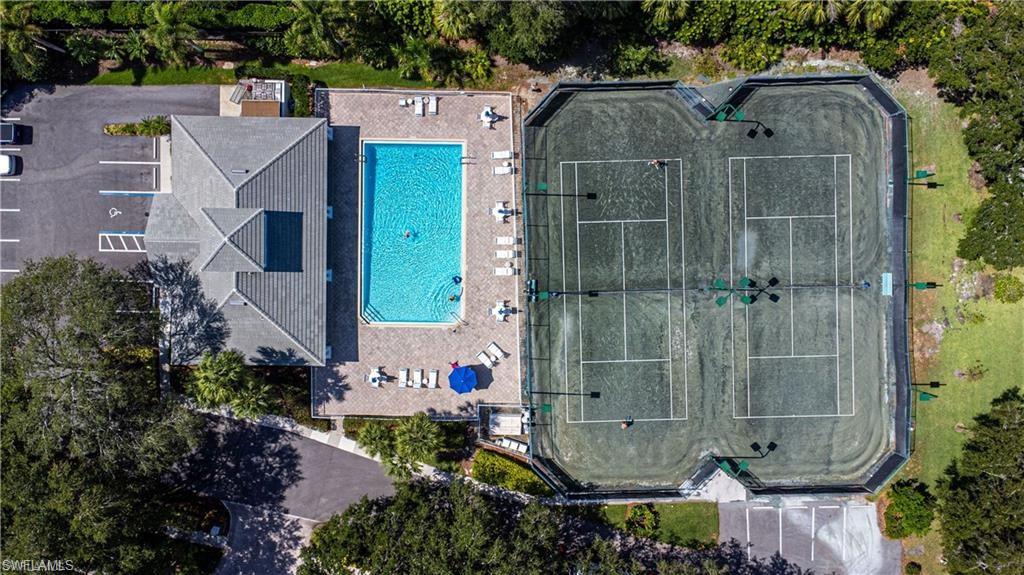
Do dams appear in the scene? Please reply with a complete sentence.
No, this view has no dam in it.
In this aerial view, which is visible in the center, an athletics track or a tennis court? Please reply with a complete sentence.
The one visible in the center is a tennis court.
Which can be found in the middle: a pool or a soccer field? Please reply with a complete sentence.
It is a pool that can be seen in the middle.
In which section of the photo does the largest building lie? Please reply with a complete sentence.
The largest building sits in the left section of the image.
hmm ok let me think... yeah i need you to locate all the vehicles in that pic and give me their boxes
[0,121,21,143]
[0,155,15,176]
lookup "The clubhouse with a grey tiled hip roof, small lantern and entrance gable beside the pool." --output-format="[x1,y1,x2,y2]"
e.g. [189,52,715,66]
[140,115,333,366]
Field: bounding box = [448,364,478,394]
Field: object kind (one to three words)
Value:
umbrella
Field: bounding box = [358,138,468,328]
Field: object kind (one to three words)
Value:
swimming pool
